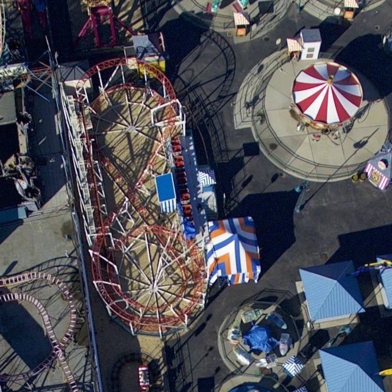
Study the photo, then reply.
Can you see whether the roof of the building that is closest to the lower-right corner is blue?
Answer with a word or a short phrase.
Yes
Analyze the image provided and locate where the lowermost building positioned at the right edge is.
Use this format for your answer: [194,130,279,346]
[312,340,385,392]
